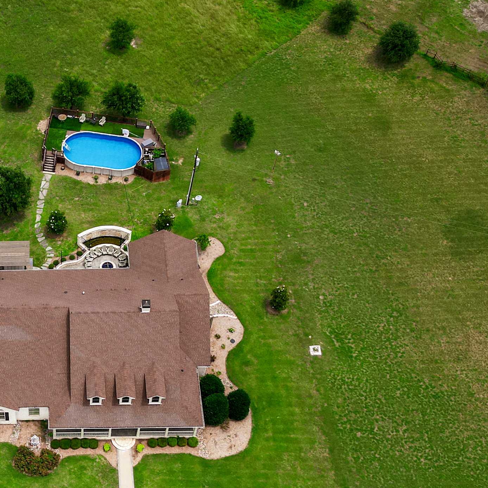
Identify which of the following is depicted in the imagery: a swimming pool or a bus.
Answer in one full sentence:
I can see a swimming pool in this picture.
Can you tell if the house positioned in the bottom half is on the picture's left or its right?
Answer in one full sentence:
It is on the left.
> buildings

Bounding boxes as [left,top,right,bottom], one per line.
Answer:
[155,159,169,174]
[0,229,212,451]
